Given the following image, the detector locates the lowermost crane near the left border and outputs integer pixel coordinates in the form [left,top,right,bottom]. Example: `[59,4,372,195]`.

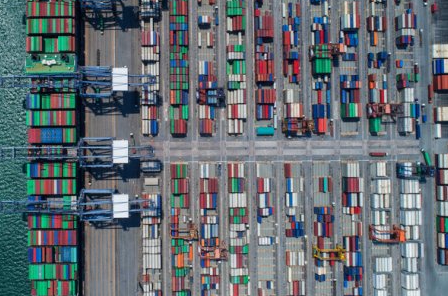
[0,183,154,223]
